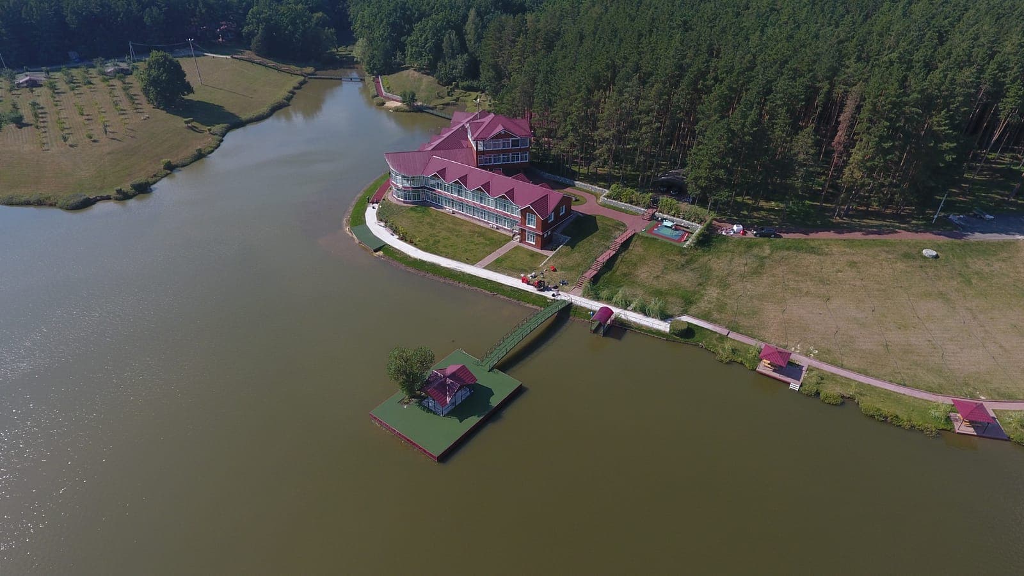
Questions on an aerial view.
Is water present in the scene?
Yes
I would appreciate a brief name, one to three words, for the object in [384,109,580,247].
building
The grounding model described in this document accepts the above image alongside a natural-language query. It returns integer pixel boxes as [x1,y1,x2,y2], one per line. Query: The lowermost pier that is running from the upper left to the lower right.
[351,225,386,256]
